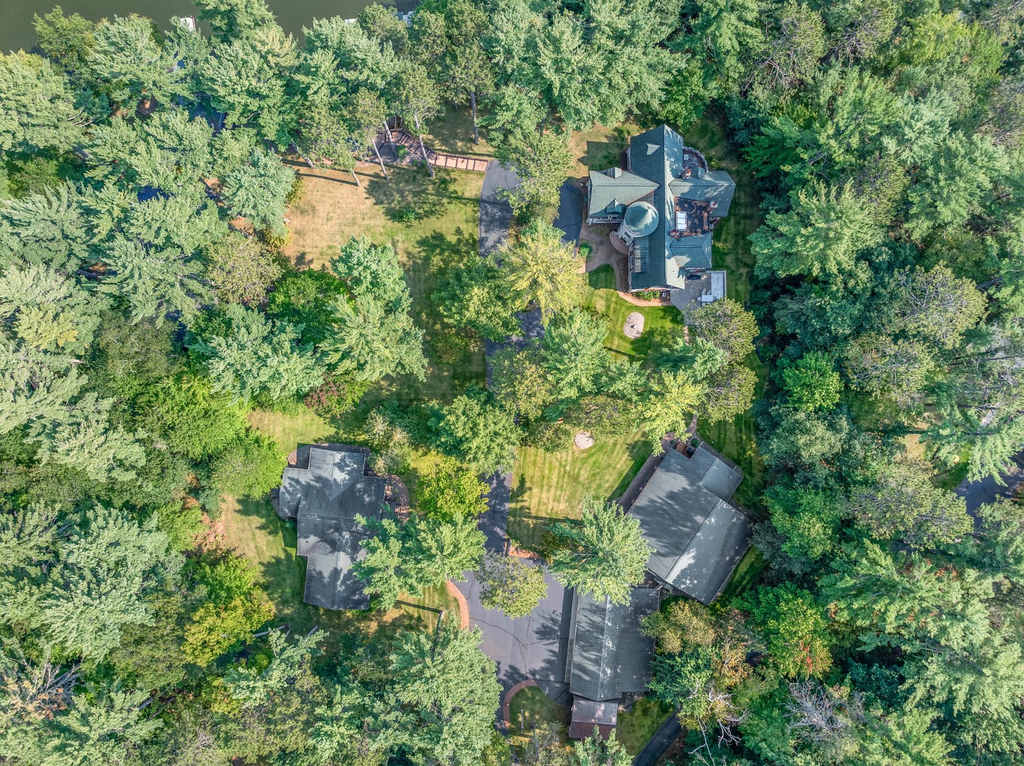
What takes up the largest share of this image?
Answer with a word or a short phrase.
trees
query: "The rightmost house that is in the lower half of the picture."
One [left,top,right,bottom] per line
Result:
[624,447,751,603]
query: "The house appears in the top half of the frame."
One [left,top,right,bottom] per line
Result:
[582,124,736,293]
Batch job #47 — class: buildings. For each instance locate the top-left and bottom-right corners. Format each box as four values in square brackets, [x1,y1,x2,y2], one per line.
[624,447,751,603]
[582,124,736,293]
[280,448,386,609]
[565,584,660,702]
